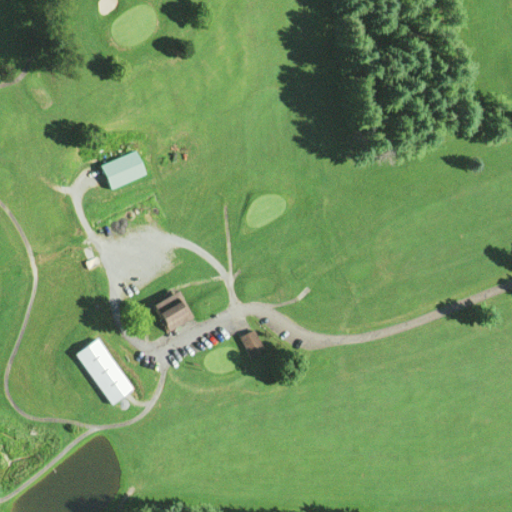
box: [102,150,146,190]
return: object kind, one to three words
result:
barn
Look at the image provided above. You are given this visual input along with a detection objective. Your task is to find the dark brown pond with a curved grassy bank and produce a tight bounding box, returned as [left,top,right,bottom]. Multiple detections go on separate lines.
[13,437,121,512]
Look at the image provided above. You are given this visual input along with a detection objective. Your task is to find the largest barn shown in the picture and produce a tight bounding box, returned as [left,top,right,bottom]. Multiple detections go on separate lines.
[77,338,135,405]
